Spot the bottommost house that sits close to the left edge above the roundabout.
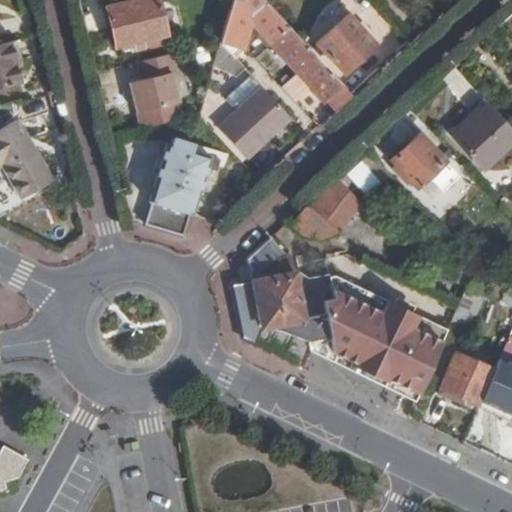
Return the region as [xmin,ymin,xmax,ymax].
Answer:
[0,119,54,200]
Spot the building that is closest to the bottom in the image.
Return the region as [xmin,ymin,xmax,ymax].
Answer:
[0,444,30,494]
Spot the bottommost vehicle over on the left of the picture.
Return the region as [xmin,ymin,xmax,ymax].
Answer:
[147,492,170,508]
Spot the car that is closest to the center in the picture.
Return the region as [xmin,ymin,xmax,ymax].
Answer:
[241,230,260,249]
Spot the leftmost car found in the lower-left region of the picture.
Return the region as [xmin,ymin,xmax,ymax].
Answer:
[120,468,142,480]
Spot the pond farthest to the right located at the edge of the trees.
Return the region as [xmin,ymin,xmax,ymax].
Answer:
[212,460,272,502]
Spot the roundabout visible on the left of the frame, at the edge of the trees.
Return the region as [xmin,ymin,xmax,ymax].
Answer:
[36,245,218,414]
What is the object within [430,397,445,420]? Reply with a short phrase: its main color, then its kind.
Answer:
white car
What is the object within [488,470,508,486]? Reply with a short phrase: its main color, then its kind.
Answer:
white car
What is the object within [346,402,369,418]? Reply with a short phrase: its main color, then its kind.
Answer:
gray car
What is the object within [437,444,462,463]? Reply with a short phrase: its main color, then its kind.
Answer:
white vehicle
